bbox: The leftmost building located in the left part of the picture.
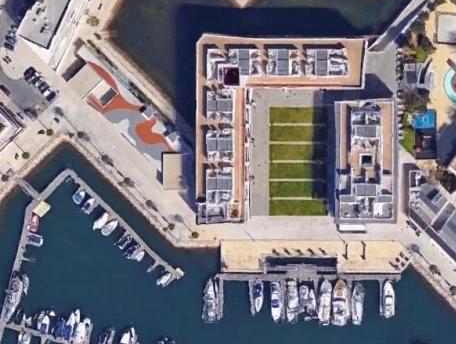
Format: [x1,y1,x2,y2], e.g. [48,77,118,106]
[0,106,29,155]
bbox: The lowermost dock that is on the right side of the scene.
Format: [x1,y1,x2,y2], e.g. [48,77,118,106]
[215,262,401,324]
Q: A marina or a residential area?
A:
marina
